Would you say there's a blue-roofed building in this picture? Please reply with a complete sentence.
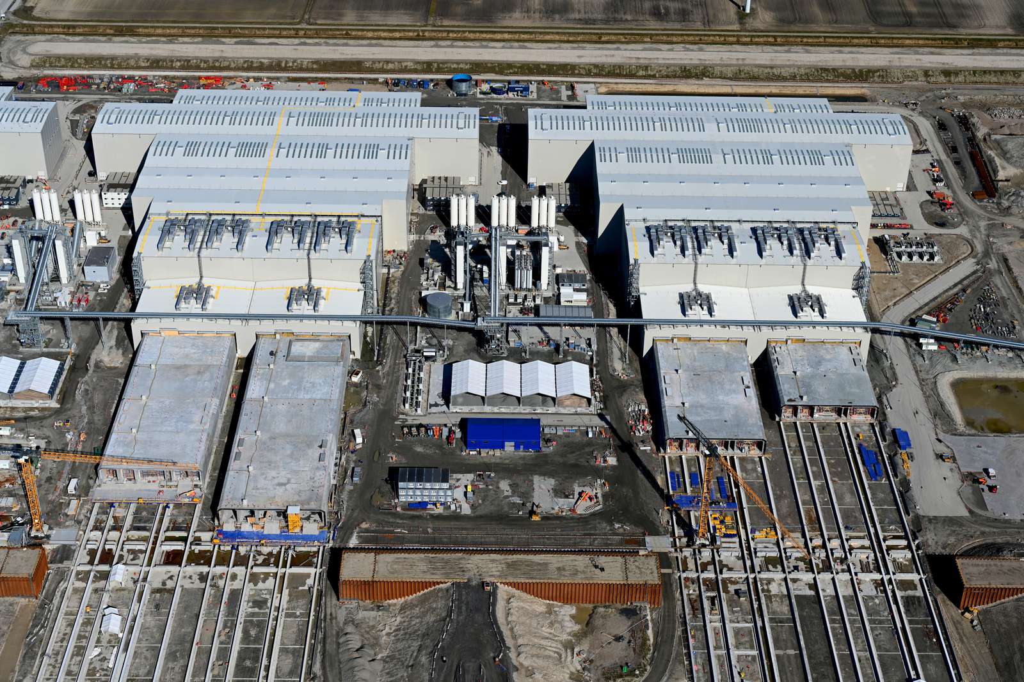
Yes, you can see a blue-roofed building in this photo.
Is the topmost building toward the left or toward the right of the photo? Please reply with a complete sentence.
The topmost building sits on the left side.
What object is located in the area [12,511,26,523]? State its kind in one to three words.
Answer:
vehicle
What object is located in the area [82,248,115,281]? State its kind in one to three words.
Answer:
building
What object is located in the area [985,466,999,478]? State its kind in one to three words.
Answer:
vehicle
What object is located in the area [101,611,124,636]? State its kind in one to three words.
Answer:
tent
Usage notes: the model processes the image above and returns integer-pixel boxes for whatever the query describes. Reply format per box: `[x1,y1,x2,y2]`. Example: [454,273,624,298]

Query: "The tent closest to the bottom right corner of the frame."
[556,361,590,405]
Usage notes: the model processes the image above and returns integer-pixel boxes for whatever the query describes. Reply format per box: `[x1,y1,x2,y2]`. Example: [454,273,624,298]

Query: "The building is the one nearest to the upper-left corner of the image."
[0,86,64,179]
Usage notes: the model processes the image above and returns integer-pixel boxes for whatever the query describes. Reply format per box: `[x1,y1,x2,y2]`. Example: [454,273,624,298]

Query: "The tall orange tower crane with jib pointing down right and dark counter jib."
[679,412,810,576]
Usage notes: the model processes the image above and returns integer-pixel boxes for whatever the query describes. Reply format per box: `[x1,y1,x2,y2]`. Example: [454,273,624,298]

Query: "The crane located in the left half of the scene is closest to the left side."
[0,445,199,543]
